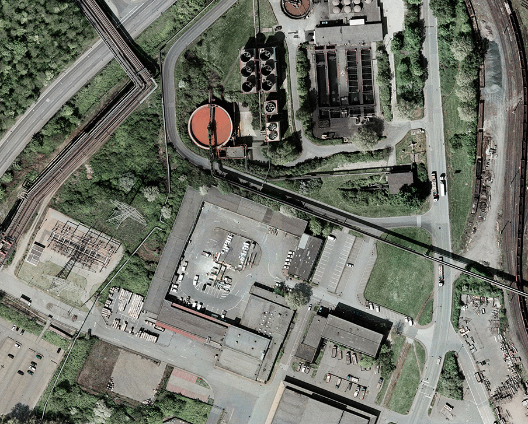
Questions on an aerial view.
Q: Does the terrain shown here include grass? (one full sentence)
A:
Yes, there is grass in the image.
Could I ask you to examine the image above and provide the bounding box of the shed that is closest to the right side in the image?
[385,172,414,190]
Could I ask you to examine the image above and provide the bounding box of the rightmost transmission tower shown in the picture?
[116,207,143,225]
